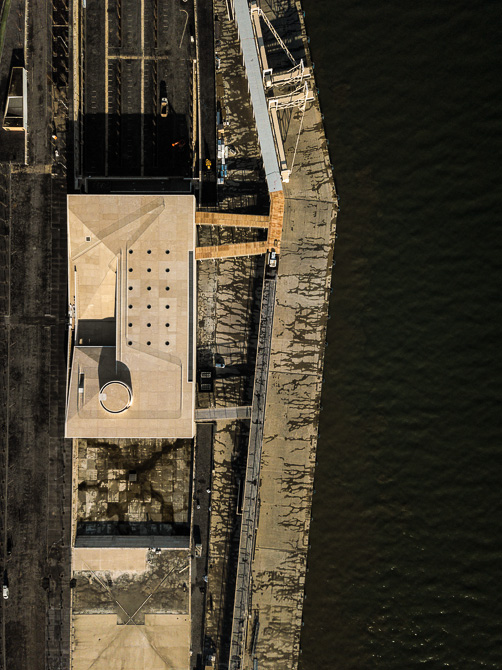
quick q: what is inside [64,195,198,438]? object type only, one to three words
building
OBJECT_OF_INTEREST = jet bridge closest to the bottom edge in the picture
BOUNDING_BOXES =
[268,79,315,185]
